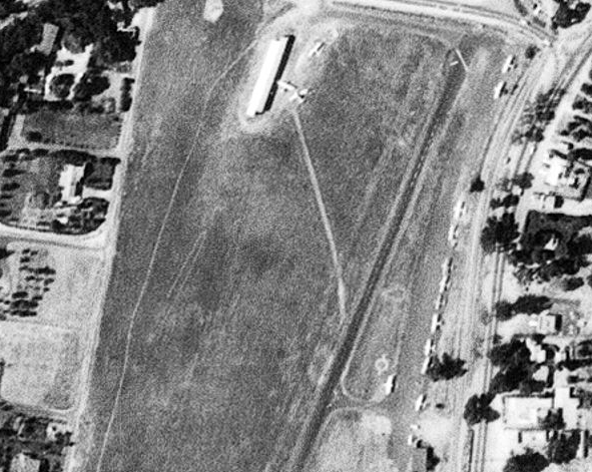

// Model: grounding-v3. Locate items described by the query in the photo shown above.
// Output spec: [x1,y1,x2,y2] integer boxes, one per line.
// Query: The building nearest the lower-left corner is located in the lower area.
[10,453,39,472]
